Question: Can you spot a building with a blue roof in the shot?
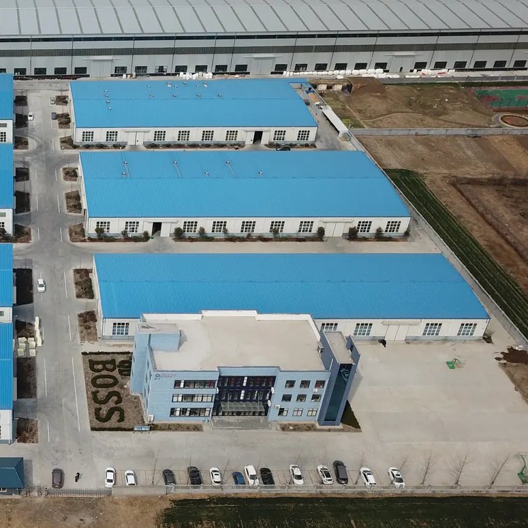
Yes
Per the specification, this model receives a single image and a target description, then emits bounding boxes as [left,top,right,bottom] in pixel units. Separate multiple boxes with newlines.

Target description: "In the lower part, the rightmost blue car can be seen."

[231,469,245,486]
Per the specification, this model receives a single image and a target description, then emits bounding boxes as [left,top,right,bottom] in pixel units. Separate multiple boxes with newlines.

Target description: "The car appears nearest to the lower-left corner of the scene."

[50,467,63,490]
